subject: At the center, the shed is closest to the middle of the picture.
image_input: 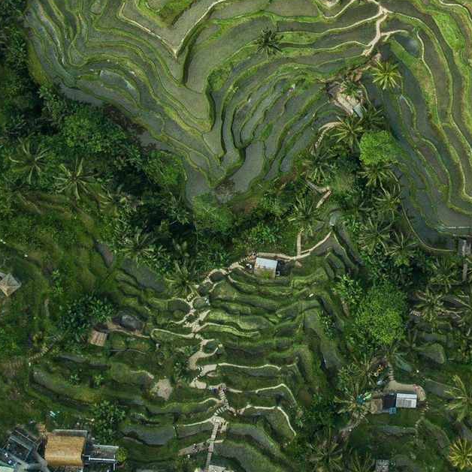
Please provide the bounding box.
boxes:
[254,255,278,275]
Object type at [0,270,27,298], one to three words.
shed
